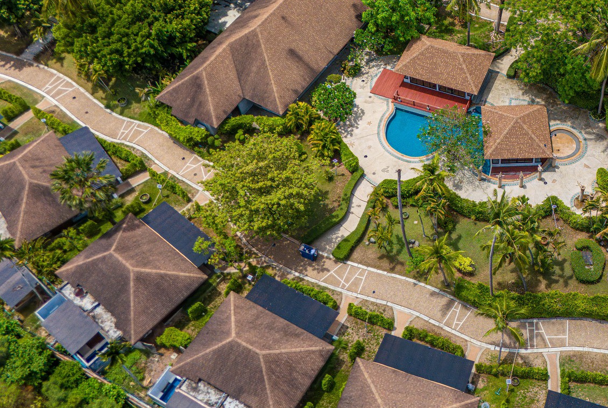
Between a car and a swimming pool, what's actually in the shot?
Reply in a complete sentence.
The image shows a swimming pool.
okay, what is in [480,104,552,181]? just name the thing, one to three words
building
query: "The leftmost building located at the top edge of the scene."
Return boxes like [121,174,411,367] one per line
[155,0,373,132]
